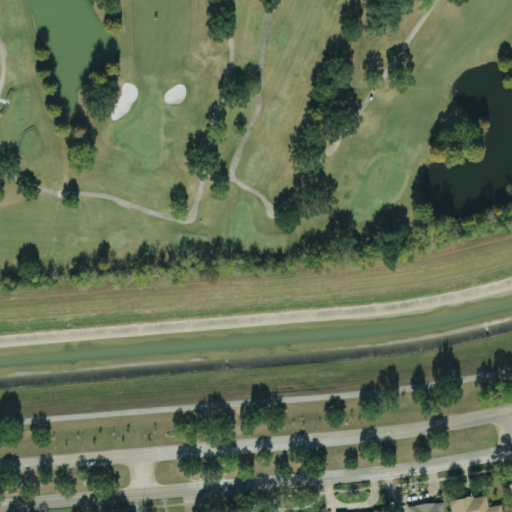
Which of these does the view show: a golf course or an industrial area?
golf course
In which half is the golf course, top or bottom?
top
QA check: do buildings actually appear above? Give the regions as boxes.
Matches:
[409,501,446,512]
[450,498,504,512]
